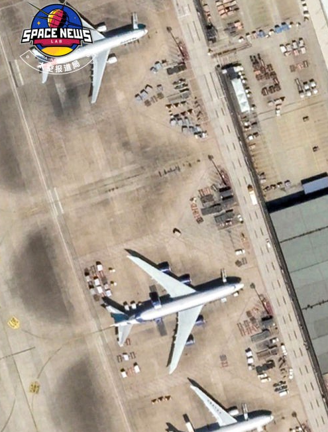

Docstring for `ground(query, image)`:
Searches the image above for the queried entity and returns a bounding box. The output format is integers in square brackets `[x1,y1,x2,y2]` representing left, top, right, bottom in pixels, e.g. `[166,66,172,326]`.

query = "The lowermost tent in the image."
[231,78,250,114]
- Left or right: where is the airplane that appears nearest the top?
left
